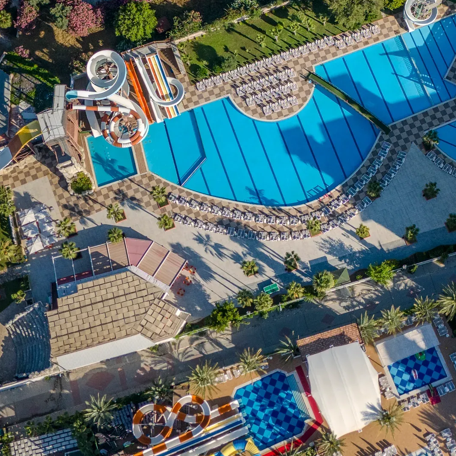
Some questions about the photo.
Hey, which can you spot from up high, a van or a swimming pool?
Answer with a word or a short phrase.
swimming pool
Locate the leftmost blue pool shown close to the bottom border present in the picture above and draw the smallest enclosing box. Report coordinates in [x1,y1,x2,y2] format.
[231,368,313,452]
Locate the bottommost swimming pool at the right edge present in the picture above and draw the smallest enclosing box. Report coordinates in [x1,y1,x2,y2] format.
[382,344,451,398]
